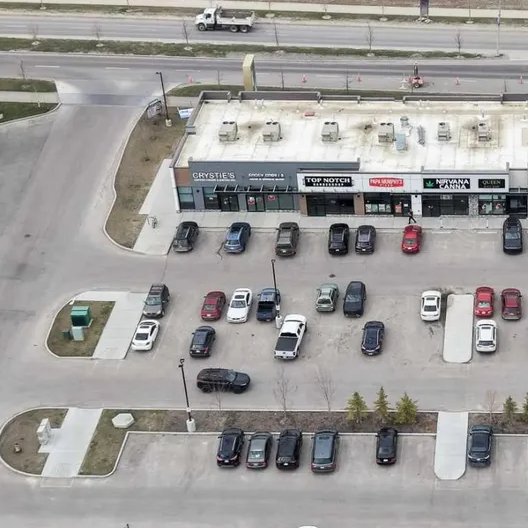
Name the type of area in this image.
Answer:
parking lot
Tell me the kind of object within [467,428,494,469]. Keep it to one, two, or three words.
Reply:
car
